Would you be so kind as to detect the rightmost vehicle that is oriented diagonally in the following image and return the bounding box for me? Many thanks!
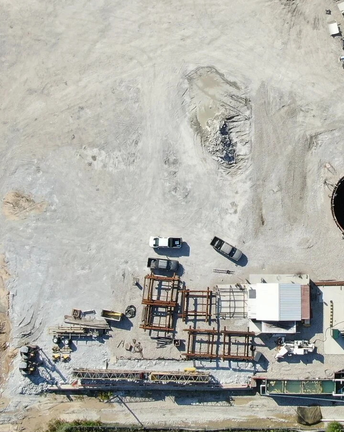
[210,235,243,262]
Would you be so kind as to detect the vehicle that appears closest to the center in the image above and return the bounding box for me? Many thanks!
[149,235,183,249]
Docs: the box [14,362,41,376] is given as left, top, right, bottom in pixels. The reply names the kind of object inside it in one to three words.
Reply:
vehicle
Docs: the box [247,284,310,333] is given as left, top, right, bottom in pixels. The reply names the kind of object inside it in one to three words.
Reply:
building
